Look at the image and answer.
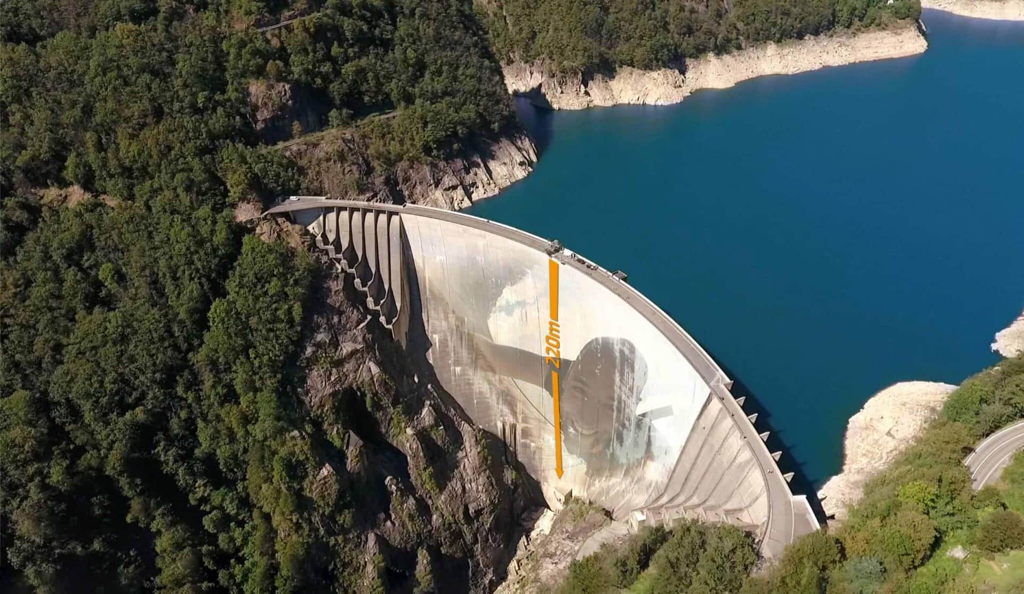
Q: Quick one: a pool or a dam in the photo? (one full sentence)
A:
This aerial view contains a dam.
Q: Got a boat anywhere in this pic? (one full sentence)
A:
No, I can't see a single boat in this photo.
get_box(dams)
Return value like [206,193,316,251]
[270,198,806,552]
